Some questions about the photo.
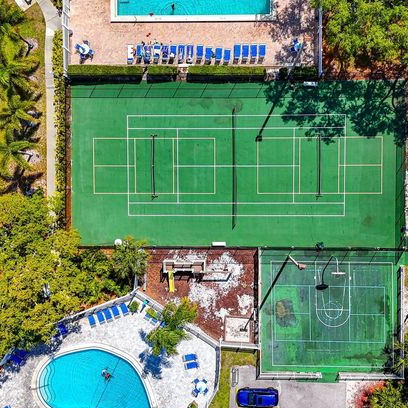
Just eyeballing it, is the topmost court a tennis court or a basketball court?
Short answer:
tennis court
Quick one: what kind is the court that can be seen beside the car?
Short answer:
basketball court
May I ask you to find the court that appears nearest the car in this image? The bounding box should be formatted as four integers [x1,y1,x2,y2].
[260,250,402,382]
